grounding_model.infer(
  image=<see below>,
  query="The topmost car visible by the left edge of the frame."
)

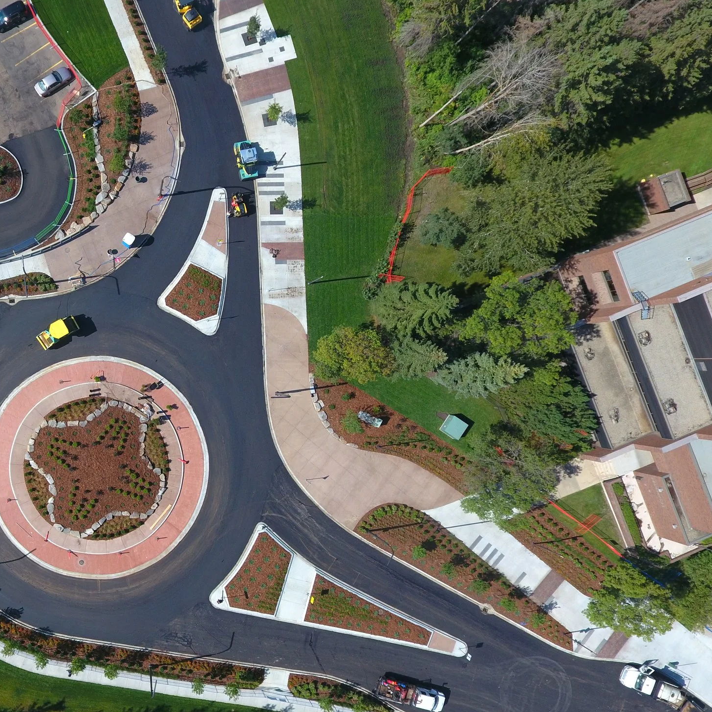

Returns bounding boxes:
[0,1,35,32]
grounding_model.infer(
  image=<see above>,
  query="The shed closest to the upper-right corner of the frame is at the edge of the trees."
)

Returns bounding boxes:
[639,169,692,213]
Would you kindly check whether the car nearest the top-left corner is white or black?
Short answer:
black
